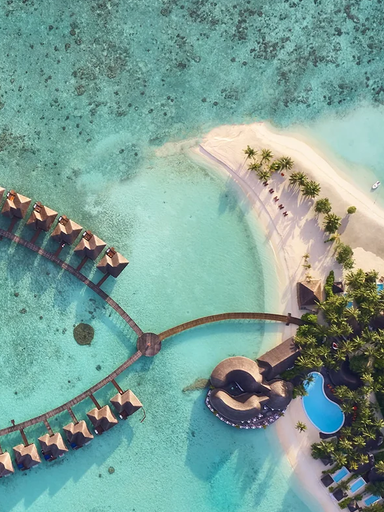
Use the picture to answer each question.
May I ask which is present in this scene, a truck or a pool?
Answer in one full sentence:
Visible in the photo is a pool.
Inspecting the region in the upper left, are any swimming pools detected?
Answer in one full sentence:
No, I see no swimming pool in the upper left.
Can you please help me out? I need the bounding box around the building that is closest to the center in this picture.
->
[95,247,130,278]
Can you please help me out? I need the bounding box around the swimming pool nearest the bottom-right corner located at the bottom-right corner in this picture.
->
[361,494,384,509]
